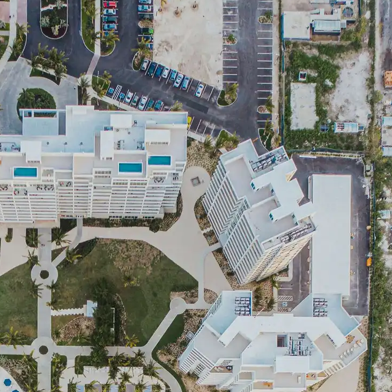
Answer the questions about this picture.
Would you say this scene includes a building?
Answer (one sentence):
Yes, a building can be made out from above.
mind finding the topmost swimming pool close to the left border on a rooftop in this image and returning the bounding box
[12,166,39,179]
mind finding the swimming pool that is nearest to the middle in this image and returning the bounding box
[146,155,173,167]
